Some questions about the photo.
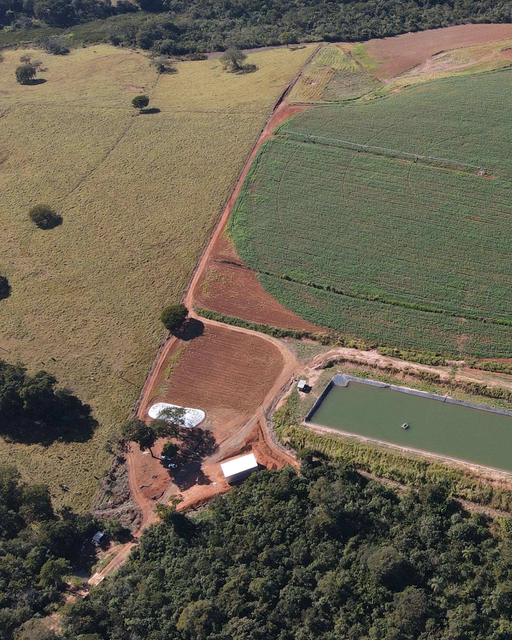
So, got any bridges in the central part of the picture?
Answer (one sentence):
No, I can find no bridge in the central part of the picture.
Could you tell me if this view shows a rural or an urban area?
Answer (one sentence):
The land in this view is best described as rural.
